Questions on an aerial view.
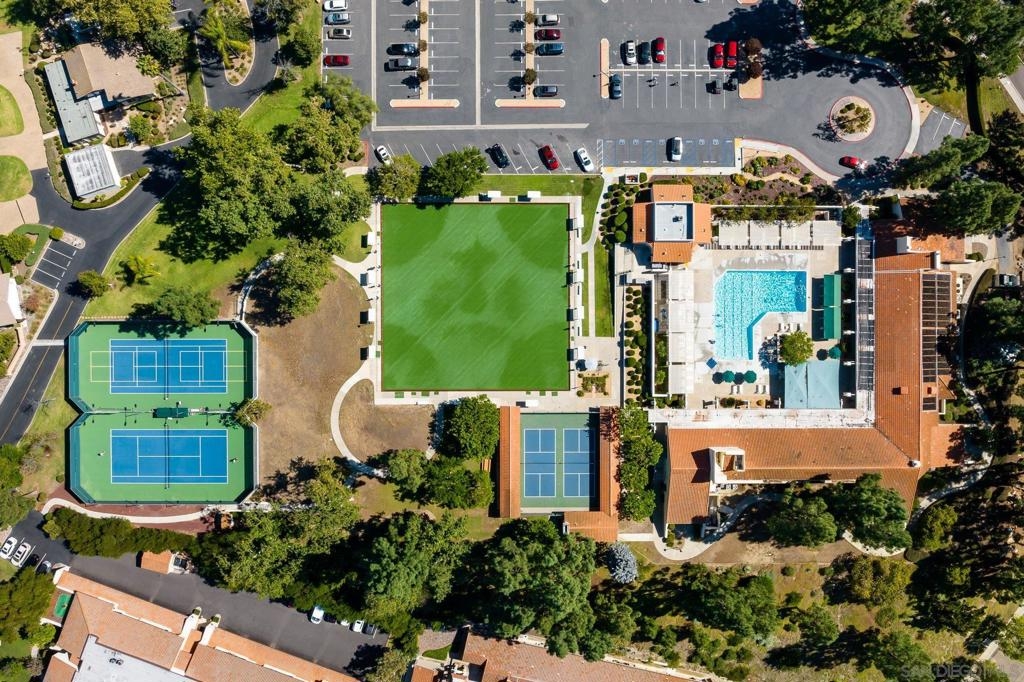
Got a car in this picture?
Yes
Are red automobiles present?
Yes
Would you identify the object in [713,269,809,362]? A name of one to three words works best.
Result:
swimming pool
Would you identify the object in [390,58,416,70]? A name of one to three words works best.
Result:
vehicle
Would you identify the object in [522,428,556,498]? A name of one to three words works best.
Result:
sports court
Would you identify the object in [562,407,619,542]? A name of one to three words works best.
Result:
building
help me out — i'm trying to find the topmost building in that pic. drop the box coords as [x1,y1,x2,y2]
[45,44,187,143]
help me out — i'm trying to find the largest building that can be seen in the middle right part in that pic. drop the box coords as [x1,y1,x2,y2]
[649,198,976,537]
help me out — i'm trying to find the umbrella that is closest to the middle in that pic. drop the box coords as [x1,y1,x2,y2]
[584,355,599,369]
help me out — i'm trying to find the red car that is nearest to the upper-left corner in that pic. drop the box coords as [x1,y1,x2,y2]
[325,54,349,66]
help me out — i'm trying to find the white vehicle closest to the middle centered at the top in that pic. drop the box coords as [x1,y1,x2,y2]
[576,147,595,172]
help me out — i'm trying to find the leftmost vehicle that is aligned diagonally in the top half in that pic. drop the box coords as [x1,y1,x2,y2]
[374,143,393,166]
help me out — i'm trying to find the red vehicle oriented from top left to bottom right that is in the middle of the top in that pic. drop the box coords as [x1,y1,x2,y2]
[540,145,559,169]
